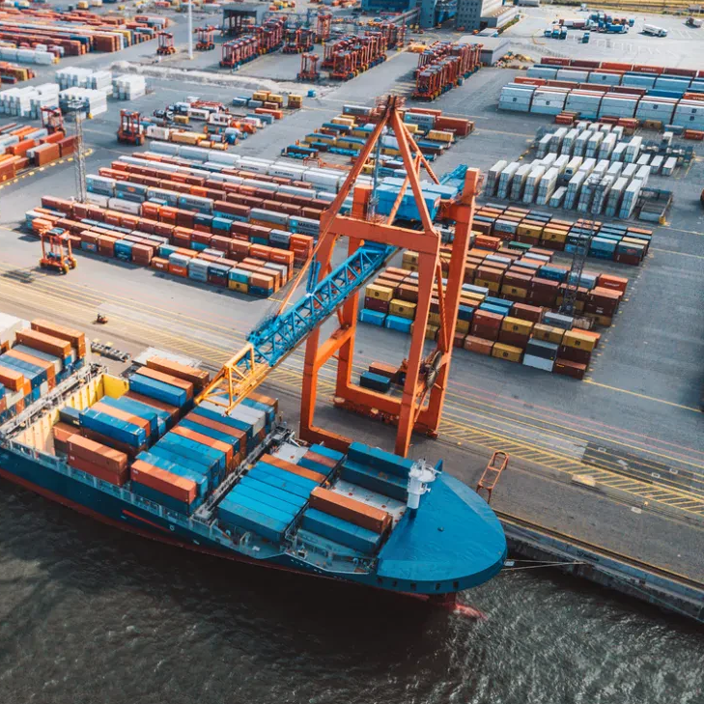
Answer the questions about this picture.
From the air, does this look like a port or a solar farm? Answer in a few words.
port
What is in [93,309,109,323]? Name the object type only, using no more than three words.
vehicle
